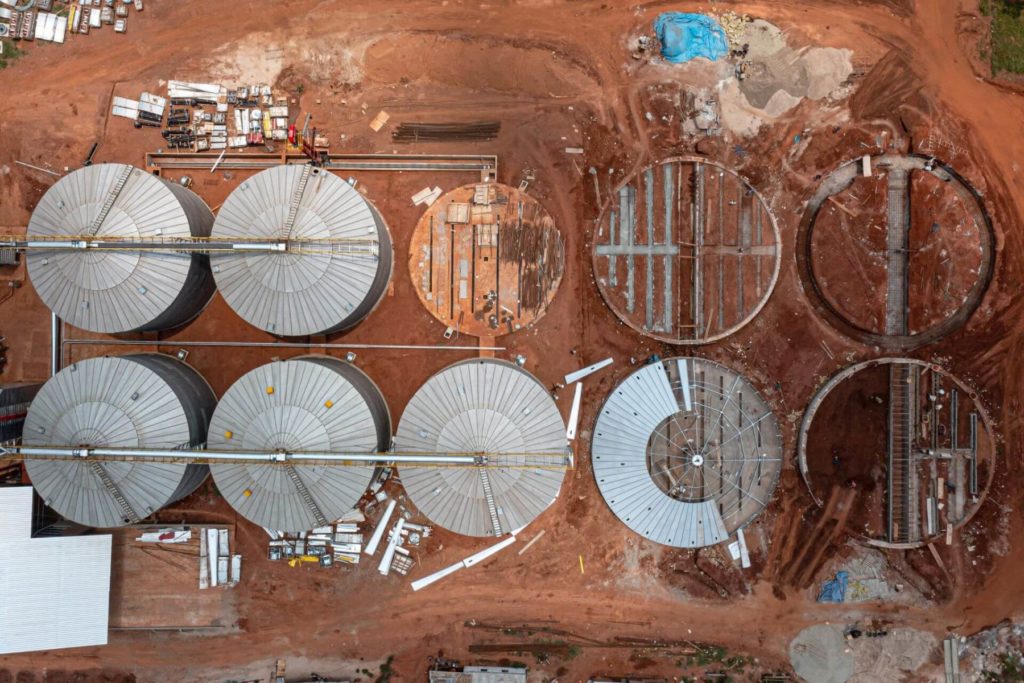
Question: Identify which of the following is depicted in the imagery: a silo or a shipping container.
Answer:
silo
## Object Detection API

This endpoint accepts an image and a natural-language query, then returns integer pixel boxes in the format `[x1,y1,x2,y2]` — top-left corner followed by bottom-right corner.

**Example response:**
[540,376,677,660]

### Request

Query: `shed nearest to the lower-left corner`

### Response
[0,473,113,653]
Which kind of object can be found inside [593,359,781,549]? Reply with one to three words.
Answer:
silo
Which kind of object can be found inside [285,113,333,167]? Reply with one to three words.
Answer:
crane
